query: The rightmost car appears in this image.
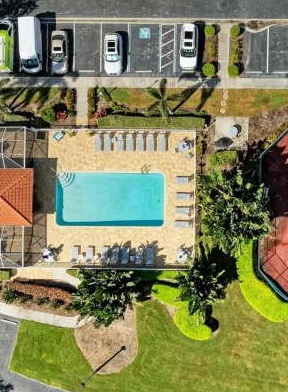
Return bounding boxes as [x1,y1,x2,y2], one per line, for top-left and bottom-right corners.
[178,25,200,70]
